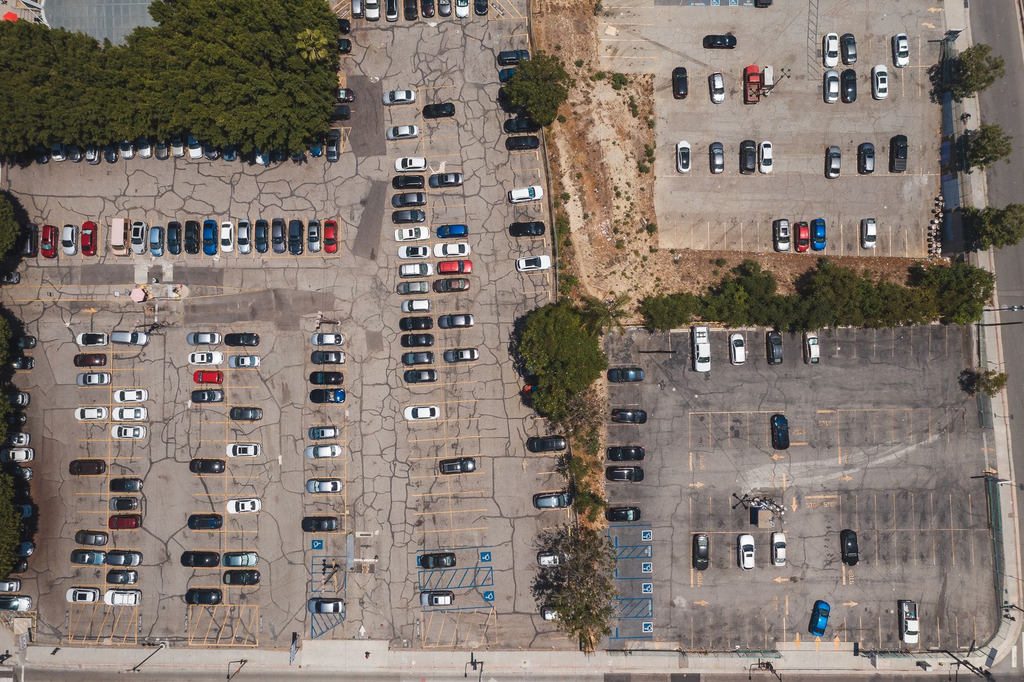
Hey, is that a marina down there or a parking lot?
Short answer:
parking lot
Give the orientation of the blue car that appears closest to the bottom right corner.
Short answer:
up and down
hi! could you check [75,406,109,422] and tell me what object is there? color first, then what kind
white car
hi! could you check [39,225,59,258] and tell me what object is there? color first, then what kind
red car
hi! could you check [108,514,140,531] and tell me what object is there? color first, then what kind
red car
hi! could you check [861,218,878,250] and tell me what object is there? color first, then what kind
gray car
